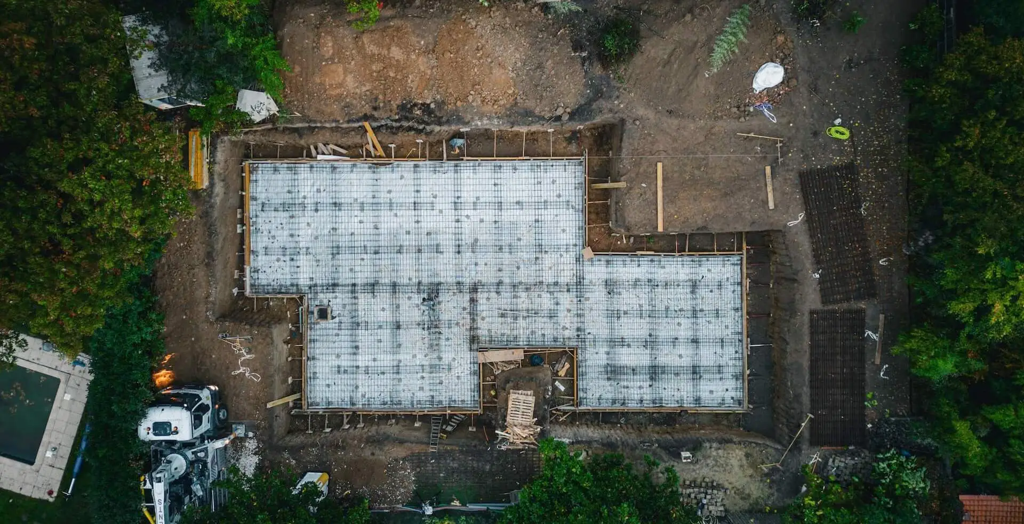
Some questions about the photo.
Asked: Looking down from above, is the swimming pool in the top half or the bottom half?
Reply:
bottom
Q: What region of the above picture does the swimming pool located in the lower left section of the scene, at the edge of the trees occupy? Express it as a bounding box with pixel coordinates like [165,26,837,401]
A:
[0,356,72,478]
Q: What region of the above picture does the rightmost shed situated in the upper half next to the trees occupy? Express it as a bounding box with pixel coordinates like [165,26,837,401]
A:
[236,81,279,127]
